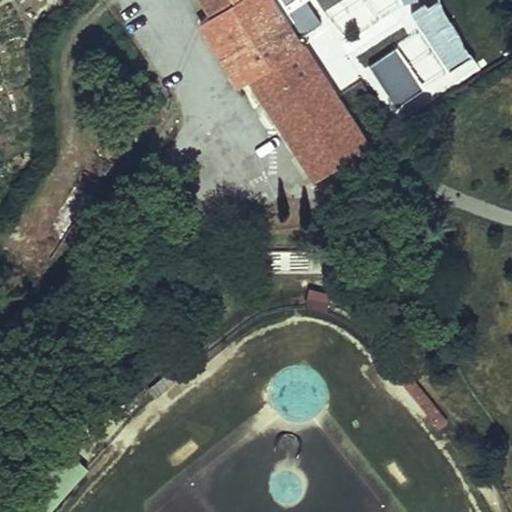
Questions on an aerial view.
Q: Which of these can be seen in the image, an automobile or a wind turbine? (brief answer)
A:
automobile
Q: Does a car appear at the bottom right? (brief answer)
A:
No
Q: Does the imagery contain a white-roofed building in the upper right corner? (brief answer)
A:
Yes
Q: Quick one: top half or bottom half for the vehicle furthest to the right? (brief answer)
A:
top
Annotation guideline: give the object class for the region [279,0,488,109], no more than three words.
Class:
building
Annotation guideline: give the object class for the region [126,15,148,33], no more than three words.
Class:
car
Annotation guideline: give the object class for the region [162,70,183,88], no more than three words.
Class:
car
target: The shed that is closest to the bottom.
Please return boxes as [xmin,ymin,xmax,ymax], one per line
[38,466,88,512]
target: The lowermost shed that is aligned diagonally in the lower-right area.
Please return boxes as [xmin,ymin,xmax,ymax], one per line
[406,380,448,430]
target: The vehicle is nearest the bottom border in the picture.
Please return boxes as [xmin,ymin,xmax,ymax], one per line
[254,138,280,159]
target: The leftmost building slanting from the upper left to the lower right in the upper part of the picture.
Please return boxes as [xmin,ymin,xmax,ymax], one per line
[200,0,370,184]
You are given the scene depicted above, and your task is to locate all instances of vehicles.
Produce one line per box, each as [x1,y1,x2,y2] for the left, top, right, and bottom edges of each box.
[126,15,148,33]
[254,138,280,159]
[120,2,142,20]
[162,70,183,88]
